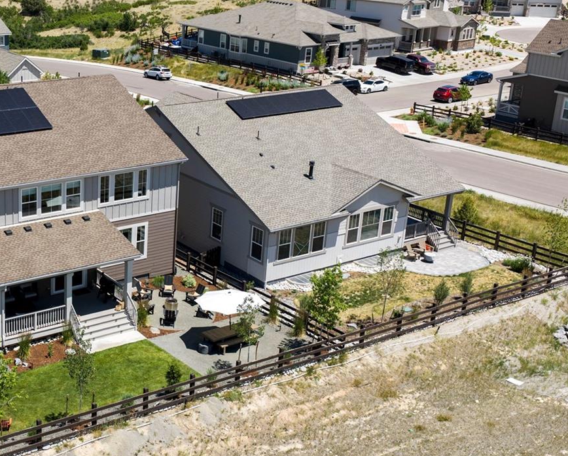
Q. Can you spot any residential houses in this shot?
Yes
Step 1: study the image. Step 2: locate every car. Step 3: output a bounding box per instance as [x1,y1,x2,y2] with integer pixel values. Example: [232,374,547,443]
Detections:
[329,73,366,91]
[436,82,470,99]
[375,53,415,71]
[142,62,179,80]
[462,69,492,84]
[358,77,392,93]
